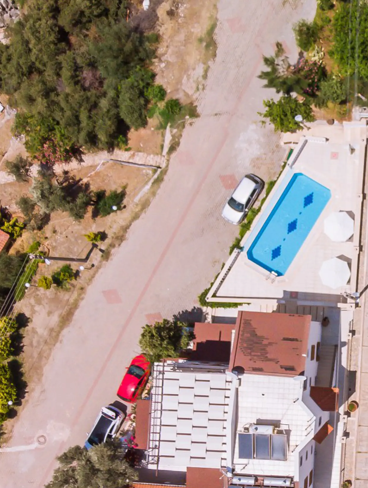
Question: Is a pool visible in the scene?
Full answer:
Yes, a pool is visible in the scene.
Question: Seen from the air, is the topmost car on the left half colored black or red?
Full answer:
From above, the topmost car on the left half appears red.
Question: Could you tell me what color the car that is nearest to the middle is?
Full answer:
In this view, the car that is nearest to the middle is white.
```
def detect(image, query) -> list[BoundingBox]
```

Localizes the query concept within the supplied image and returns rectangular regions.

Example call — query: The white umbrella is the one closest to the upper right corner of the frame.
[324,212,355,242]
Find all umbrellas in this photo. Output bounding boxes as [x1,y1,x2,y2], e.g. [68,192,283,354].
[319,256,351,290]
[324,212,355,242]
